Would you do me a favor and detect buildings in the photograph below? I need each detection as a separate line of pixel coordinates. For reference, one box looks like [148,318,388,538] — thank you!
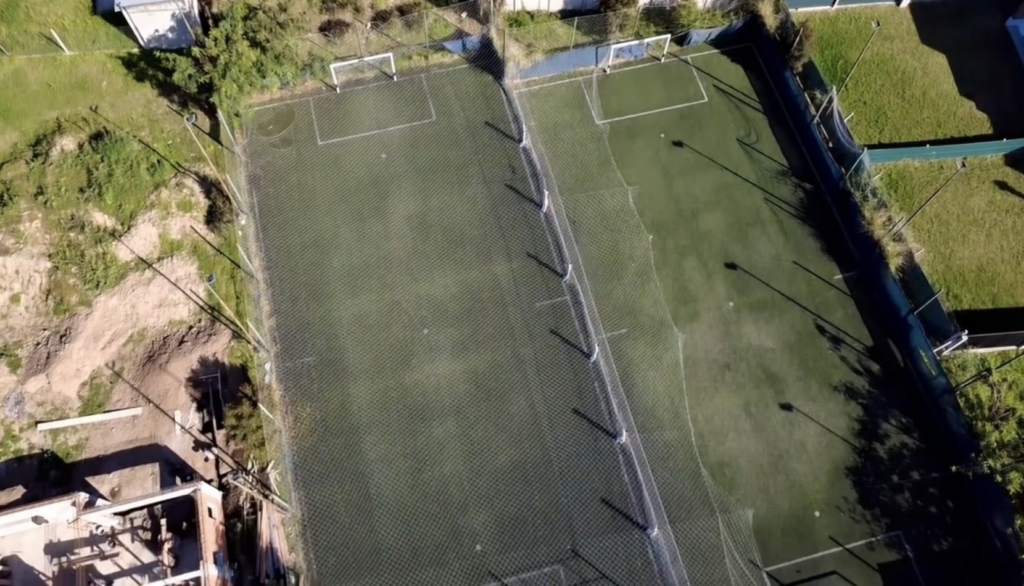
[0,480,236,586]
[112,0,197,50]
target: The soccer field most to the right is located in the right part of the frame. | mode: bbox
[502,41,1023,586]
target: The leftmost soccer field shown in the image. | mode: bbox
[240,59,659,586]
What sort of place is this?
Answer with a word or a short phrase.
sports ground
